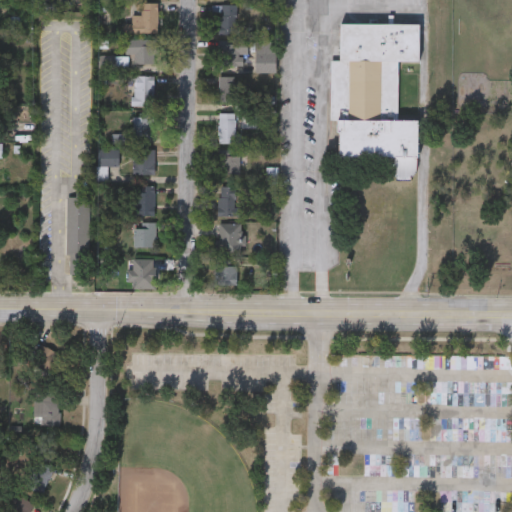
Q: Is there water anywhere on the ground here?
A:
No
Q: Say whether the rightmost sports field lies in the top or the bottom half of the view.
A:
top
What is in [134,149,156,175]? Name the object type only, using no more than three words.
house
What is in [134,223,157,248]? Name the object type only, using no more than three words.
house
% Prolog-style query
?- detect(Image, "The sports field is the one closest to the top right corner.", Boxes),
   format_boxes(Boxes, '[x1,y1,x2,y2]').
[456,0,512,80]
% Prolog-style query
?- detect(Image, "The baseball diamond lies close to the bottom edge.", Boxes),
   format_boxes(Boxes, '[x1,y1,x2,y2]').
[120,400,254,512]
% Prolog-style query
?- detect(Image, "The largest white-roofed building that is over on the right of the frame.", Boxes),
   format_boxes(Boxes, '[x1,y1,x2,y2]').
[332,15,420,180]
